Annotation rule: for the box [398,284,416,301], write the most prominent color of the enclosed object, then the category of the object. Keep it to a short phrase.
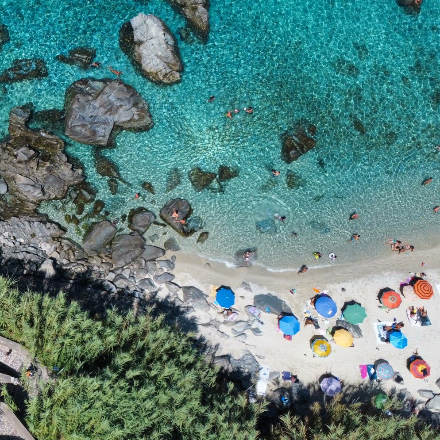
white umbrella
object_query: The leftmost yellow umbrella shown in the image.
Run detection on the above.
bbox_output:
[311,338,329,357]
